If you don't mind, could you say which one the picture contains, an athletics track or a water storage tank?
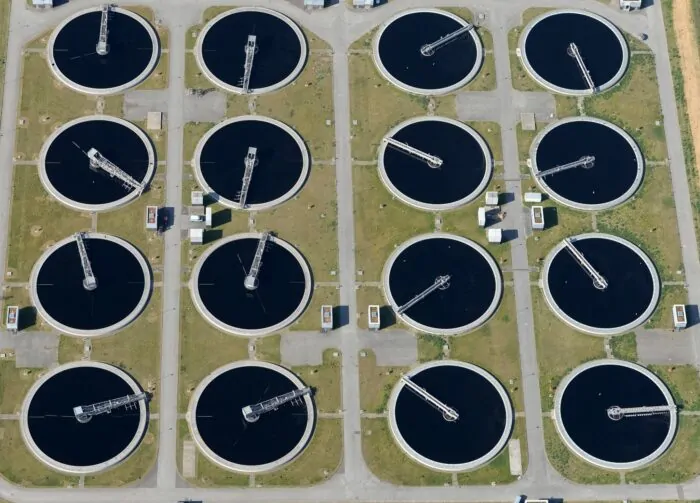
water storage tank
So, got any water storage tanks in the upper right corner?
Yes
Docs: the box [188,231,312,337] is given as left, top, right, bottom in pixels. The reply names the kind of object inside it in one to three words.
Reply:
water tank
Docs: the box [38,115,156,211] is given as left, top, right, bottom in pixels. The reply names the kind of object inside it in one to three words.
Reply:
water tank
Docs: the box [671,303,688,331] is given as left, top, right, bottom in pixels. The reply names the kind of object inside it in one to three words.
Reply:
shed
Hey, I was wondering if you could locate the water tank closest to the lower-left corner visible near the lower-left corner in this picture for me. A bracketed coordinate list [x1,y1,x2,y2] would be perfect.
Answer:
[20,362,148,474]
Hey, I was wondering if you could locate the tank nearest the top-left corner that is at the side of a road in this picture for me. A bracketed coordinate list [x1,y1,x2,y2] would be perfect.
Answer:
[46,2,159,95]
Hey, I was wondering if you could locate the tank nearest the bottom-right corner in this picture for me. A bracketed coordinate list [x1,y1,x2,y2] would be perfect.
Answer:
[549,359,678,470]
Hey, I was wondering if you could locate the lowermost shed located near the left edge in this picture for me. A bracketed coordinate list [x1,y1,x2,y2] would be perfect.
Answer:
[5,305,19,334]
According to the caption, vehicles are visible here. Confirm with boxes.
[515,495,522,503]
[191,215,202,221]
